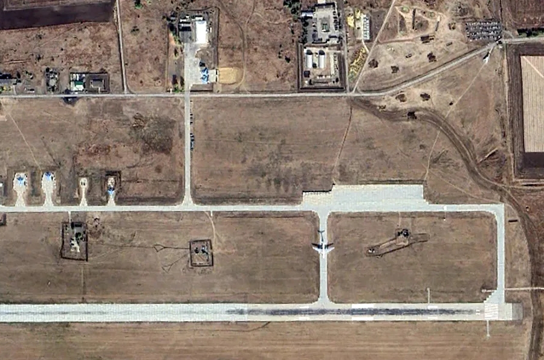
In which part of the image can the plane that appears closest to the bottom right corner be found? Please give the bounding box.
[313,240,334,258]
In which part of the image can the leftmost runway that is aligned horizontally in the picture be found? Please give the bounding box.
[0,303,247,322]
